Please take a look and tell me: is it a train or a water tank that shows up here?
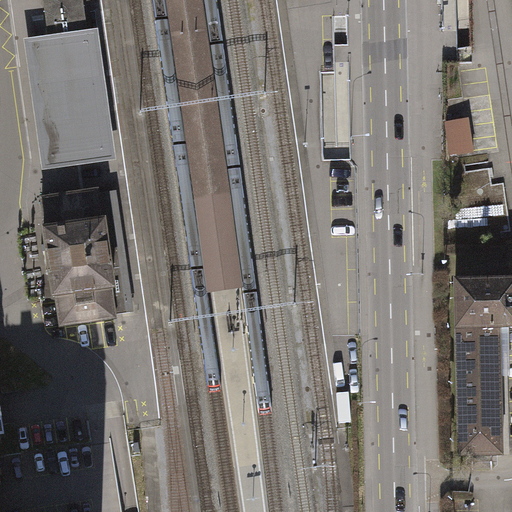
train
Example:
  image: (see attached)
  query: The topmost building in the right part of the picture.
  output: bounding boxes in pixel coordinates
[445,118,474,156]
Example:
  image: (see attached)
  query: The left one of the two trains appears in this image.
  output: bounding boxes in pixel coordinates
[152,0,220,395]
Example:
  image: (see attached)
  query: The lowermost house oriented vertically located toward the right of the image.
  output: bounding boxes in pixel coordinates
[454,274,512,456]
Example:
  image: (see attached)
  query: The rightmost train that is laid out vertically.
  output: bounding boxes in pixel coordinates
[204,0,272,417]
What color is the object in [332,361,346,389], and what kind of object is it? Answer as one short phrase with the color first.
white vehicle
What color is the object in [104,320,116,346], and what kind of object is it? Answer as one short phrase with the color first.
black vehicle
